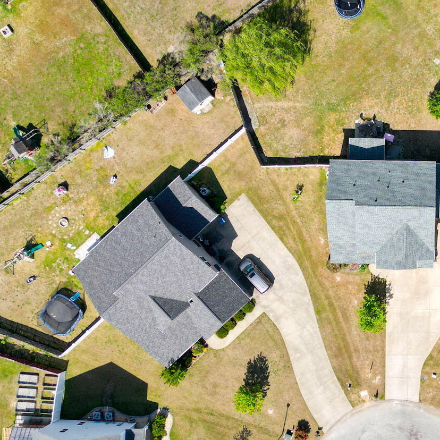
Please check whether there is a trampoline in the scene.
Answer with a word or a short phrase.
Yes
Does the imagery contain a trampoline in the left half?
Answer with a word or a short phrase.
Yes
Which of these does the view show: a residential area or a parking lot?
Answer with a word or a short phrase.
residential area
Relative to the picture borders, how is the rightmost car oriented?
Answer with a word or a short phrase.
on a diagonal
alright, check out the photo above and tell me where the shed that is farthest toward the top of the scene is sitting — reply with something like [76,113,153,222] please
[176,77,218,113]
